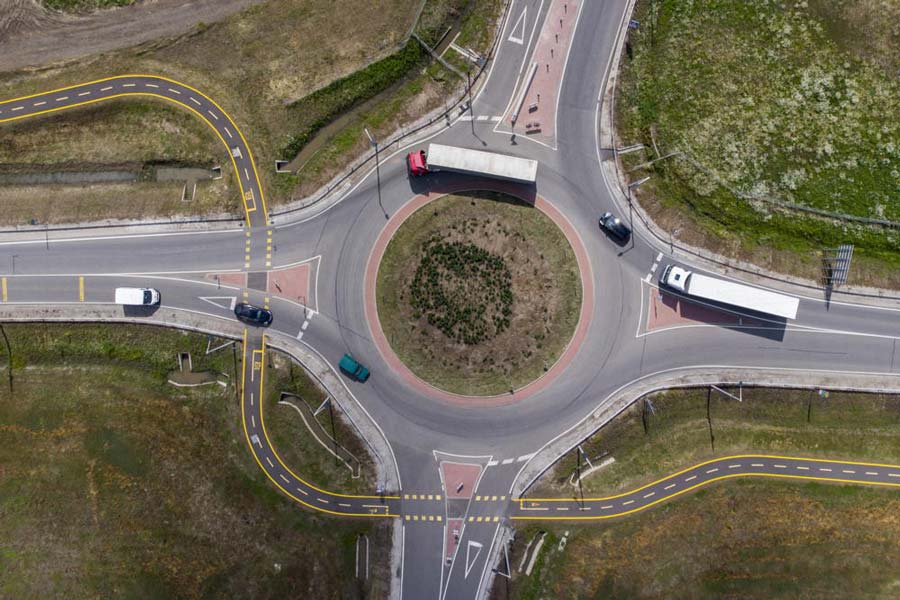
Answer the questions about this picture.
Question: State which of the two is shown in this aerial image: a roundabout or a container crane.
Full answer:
Looking from above, you can make out a roundabout.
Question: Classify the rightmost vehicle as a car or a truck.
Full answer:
From above, the rightmost vehicle can be identified as a truck.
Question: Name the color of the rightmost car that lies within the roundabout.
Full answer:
From above, the rightmost car that lies within the roundabout appears black.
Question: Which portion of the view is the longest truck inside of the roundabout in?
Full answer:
You can find the longest truck inside of the roundabout in the top area of the picture.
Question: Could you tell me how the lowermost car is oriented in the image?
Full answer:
In this picture, the lowermost car is oriented at an angle.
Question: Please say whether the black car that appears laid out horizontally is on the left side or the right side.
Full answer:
The black car that appears laid out horizontally is on the left side of the image.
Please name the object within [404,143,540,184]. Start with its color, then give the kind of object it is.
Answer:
white truck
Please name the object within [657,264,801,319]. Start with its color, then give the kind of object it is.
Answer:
white truck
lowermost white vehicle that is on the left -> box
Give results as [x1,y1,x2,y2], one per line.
[118,288,162,307]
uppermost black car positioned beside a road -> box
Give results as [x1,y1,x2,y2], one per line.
[598,213,630,244]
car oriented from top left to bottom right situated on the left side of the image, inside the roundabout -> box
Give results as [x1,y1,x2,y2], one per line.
[339,353,369,380]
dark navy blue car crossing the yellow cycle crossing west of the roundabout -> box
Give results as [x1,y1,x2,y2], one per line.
[236,305,273,325]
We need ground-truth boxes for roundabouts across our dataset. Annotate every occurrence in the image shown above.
[318,128,643,454]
